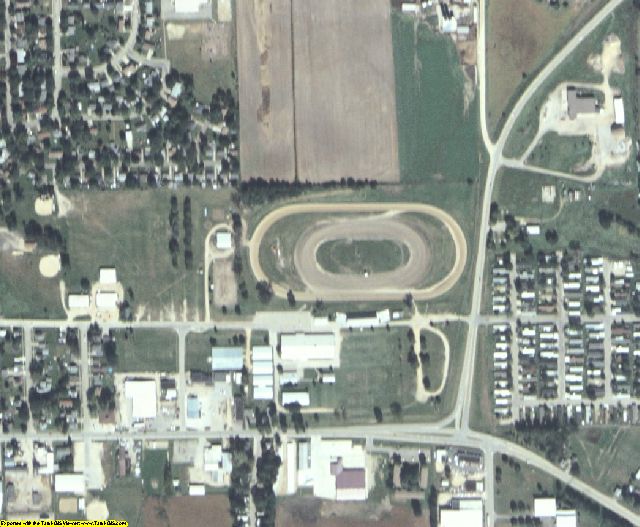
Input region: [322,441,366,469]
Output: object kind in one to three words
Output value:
building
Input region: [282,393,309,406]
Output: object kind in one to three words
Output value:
building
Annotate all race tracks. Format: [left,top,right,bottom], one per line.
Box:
[249,203,467,301]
